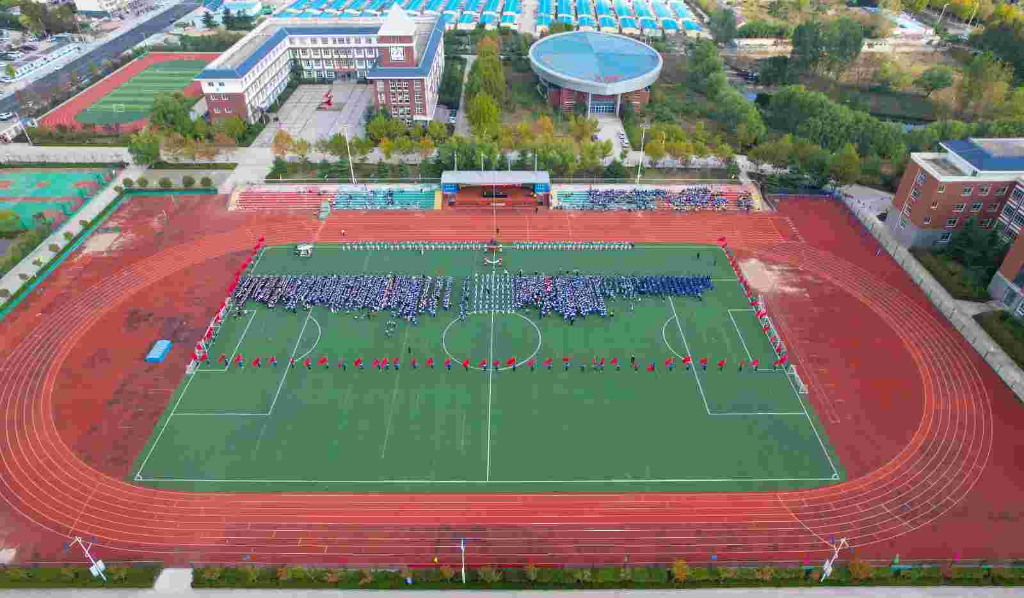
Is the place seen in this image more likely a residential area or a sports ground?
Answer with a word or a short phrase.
sports ground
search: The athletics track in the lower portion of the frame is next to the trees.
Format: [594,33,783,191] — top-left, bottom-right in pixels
[0,221,989,549]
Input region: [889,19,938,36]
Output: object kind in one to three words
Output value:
building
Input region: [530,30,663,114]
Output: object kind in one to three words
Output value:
building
